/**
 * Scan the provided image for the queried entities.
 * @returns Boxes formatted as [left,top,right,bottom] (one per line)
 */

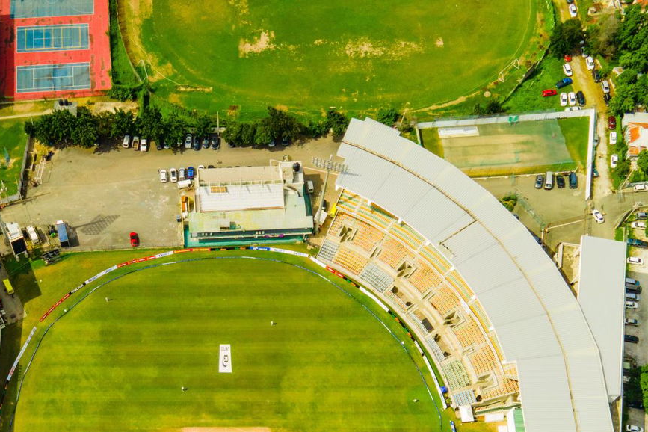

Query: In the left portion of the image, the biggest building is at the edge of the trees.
[184,160,313,255]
